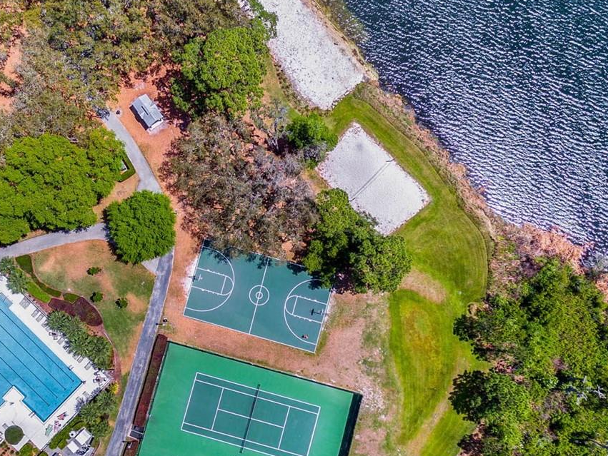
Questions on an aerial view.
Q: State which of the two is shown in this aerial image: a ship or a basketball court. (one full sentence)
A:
It is a basketball court that can be seen here.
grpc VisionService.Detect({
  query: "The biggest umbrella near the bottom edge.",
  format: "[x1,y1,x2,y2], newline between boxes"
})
[6,425,25,444]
